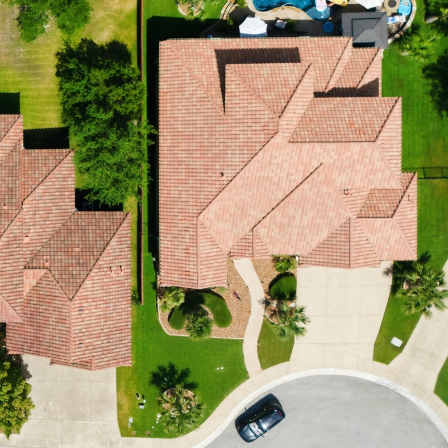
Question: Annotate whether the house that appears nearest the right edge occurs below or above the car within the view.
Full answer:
The house that appears nearest the right edge is located above the car in this view.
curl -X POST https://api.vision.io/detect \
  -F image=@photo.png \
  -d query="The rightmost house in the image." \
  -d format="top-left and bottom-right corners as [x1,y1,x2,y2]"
[159,36,419,288]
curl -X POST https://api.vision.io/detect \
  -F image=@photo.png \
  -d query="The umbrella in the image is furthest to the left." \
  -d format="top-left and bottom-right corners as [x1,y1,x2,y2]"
[238,13,267,39]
